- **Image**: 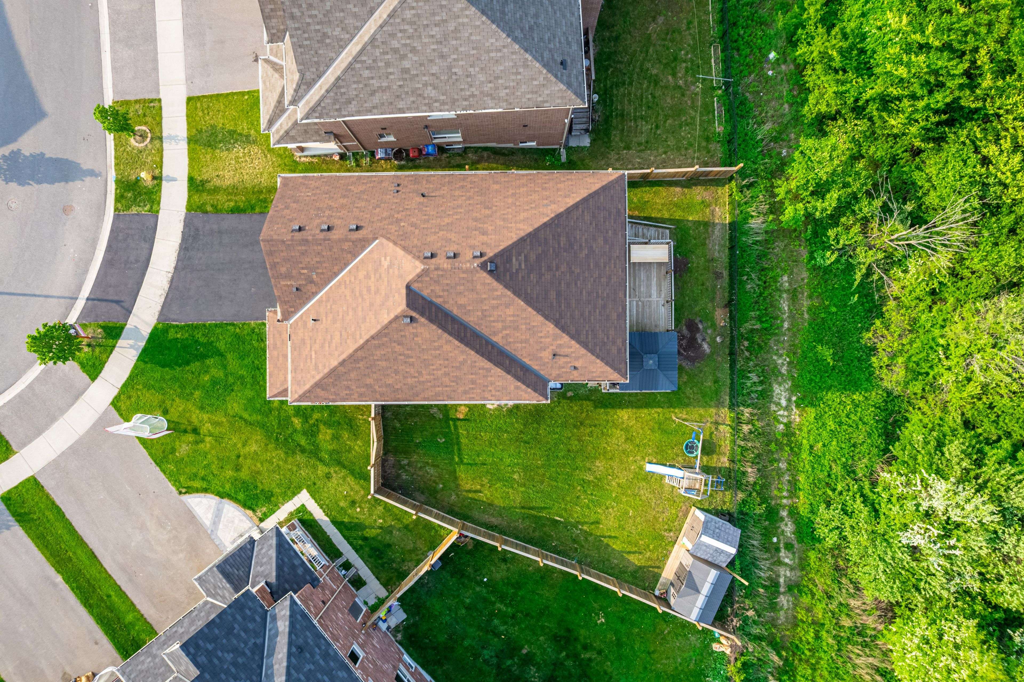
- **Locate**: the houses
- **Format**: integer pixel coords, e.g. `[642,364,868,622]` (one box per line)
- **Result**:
[256,0,603,154]
[114,514,431,682]
[260,169,630,406]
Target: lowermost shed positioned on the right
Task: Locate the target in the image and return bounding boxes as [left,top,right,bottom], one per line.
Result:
[667,552,733,626]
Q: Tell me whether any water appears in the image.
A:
No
